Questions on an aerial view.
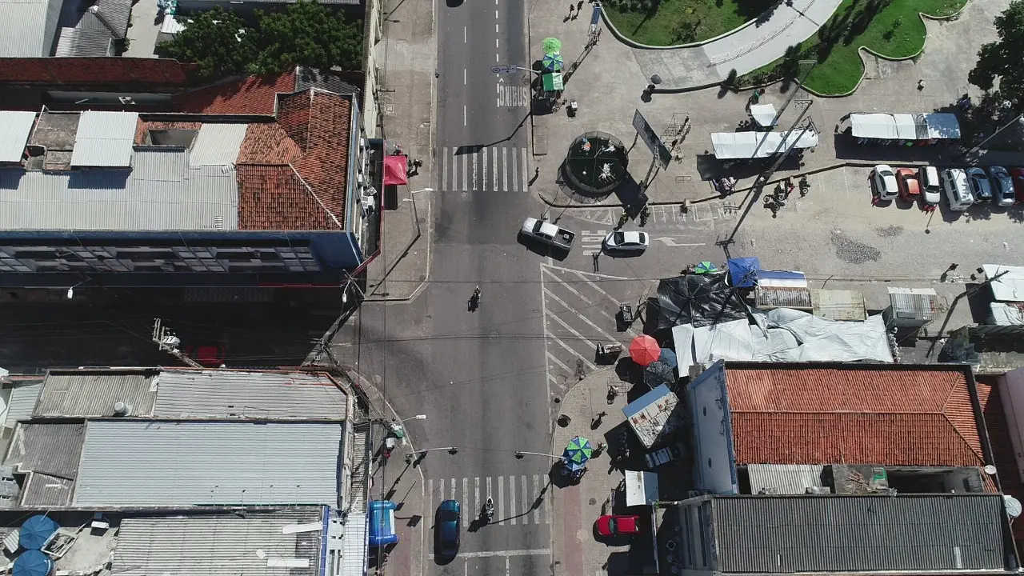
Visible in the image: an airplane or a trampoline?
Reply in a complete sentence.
This aerial view contains a trampoline.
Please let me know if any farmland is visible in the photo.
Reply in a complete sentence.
No, farmland can't be seen anywhere here.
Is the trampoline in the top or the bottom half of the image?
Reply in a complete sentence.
You can find the trampoline in the top half.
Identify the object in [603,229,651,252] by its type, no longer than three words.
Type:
car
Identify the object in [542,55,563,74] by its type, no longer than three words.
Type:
umbrella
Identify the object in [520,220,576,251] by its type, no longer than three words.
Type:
truck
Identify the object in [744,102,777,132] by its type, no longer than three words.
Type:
tent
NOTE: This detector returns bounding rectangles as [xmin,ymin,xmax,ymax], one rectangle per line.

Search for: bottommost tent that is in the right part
[621,470,660,508]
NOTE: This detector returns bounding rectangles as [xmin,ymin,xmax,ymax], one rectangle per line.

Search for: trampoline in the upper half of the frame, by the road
[558,132,630,203]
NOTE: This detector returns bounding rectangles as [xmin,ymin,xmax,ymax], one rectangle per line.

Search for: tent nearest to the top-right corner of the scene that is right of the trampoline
[842,112,961,149]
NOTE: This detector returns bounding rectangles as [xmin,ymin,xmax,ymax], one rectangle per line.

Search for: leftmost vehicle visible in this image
[185,343,232,367]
